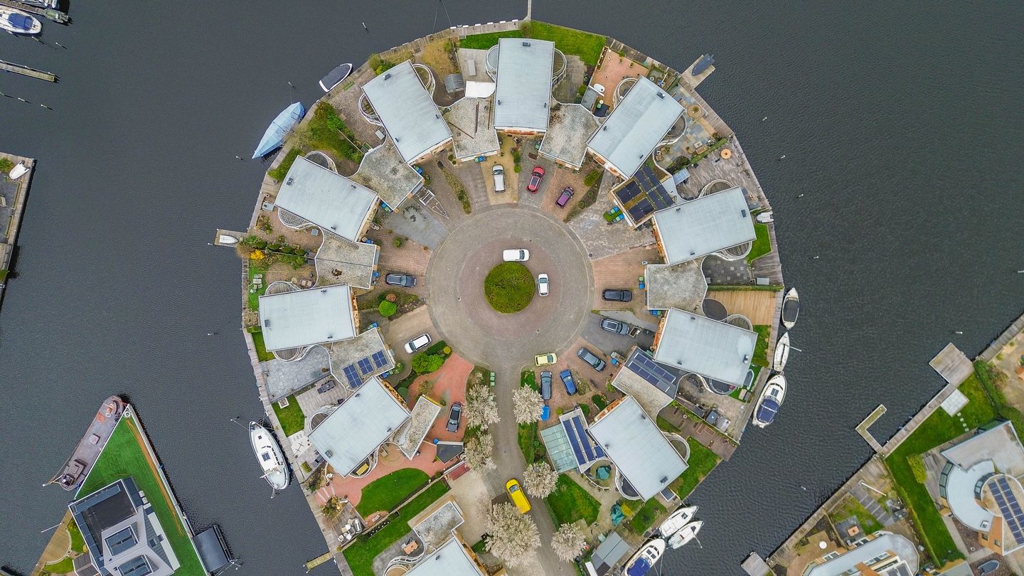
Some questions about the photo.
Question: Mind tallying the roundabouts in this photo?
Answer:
1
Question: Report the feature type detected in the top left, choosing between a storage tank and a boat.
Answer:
boat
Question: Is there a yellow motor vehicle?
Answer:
Yes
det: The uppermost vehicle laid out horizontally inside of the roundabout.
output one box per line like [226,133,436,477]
[503,248,530,261]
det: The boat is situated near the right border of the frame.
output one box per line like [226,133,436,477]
[975,560,1000,575]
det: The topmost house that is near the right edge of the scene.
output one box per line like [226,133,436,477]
[936,416,1024,552]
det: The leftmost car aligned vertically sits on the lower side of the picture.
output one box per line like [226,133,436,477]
[448,402,462,431]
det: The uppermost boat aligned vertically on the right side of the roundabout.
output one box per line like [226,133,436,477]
[782,288,799,329]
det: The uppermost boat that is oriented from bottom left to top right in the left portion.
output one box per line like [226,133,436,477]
[321,64,353,92]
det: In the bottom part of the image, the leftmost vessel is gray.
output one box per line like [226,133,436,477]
[56,393,124,517]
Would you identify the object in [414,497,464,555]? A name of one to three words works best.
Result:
building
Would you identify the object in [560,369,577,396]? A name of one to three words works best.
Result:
car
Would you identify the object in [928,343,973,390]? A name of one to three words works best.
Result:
pier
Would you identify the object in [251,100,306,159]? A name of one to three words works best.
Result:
boat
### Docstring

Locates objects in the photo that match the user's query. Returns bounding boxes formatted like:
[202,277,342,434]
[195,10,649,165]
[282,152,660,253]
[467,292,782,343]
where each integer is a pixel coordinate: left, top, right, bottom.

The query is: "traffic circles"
[425,202,595,371]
